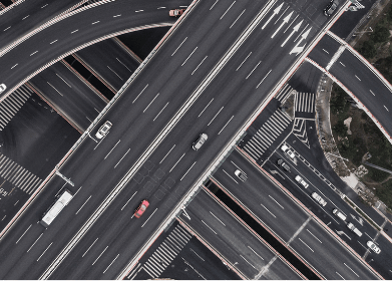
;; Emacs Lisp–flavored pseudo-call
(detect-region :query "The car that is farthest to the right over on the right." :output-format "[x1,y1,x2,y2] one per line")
[365,240,381,255]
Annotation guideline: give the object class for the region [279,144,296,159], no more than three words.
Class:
car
